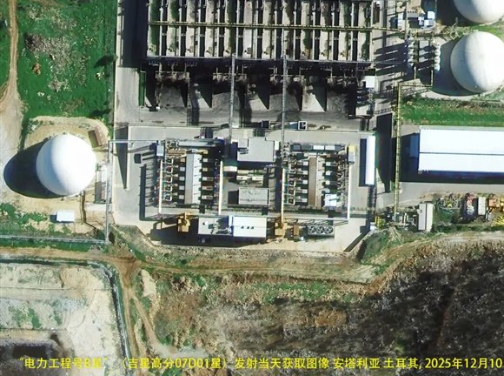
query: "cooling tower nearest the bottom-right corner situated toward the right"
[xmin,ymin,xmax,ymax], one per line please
[307,224,334,237]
